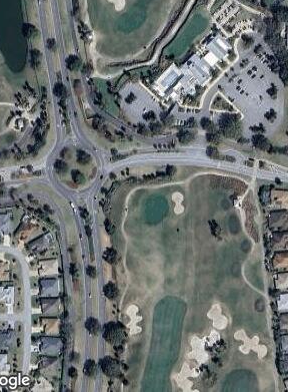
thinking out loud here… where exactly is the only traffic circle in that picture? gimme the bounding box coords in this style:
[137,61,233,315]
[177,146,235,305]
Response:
[46,137,107,198]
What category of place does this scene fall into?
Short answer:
golf course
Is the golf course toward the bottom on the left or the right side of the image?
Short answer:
right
